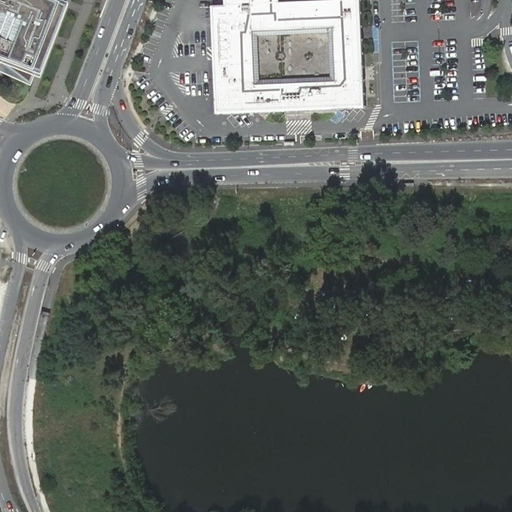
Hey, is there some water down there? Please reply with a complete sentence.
Yes, some water is visible.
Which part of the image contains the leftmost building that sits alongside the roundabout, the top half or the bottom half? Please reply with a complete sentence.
The leftmost building that sits alongside the roundabout sits in the top half of the picture.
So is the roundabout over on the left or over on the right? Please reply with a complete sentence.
The roundabout is on the left side of the image.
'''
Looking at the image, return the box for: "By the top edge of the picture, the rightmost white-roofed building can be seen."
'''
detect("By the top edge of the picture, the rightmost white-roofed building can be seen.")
[210,0,362,115]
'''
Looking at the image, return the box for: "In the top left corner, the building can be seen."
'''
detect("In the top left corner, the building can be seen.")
[0,0,68,85]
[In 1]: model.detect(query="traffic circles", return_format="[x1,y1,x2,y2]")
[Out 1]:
[0,112,134,256]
